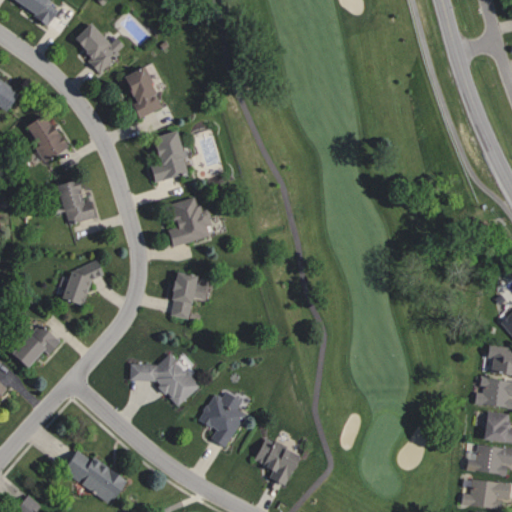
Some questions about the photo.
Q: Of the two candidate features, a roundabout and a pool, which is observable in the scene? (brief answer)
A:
pool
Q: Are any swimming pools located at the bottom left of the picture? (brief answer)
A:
No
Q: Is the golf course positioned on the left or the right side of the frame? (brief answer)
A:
right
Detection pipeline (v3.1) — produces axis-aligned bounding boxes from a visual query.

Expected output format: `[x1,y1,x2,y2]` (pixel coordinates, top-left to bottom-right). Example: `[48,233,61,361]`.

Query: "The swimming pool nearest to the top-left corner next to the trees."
[115,13,150,46]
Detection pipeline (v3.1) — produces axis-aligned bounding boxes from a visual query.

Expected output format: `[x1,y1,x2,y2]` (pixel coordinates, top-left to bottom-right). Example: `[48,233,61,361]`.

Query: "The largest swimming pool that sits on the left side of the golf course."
[191,129,223,180]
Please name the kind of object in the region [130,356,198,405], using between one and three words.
house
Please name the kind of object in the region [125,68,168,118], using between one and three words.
house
